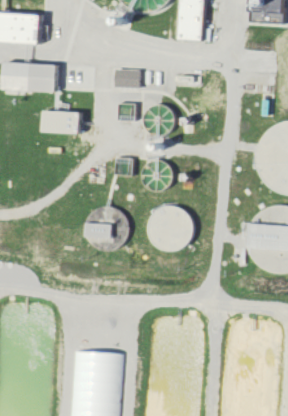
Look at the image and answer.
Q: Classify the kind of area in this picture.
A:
industrial area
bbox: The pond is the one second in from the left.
[146,314,205,416]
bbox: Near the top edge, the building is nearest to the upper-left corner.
[0,12,44,44]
